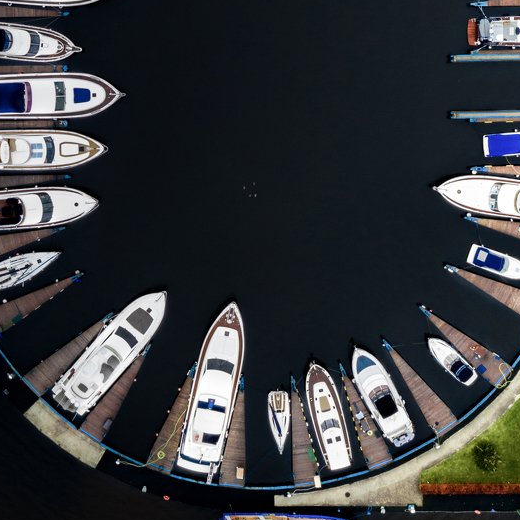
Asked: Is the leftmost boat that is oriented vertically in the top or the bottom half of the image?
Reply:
bottom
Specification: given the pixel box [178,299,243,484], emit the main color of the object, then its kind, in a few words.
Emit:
white boat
